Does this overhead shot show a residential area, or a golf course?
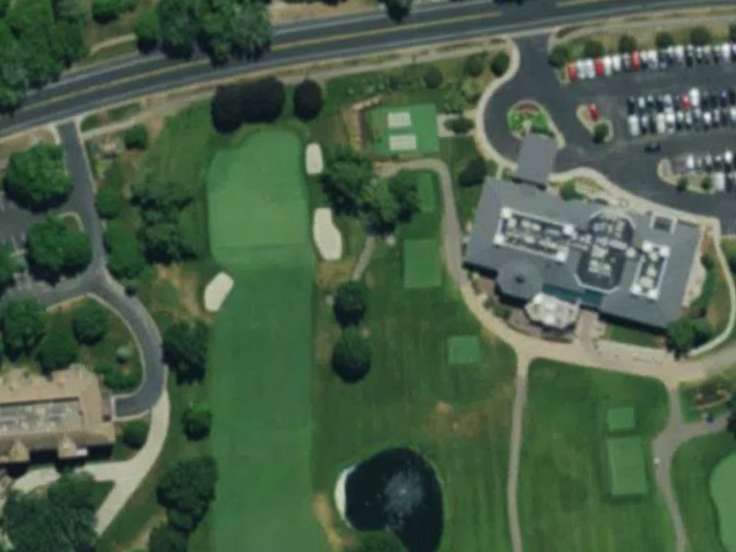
golf course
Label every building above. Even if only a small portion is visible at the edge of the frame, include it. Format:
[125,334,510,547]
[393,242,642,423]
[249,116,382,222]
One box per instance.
[0,365,115,480]
[463,136,701,341]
